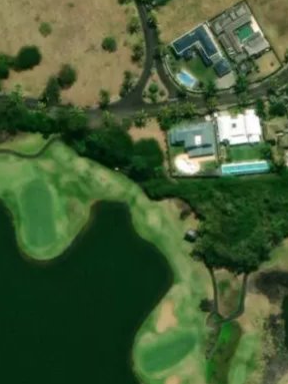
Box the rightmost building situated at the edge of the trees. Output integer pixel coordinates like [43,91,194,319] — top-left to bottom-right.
[264,116,288,149]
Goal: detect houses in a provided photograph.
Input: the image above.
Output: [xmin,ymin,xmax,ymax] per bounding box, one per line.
[210,3,272,61]
[264,116,288,149]
[218,109,262,145]
[172,24,232,78]
[172,122,215,157]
